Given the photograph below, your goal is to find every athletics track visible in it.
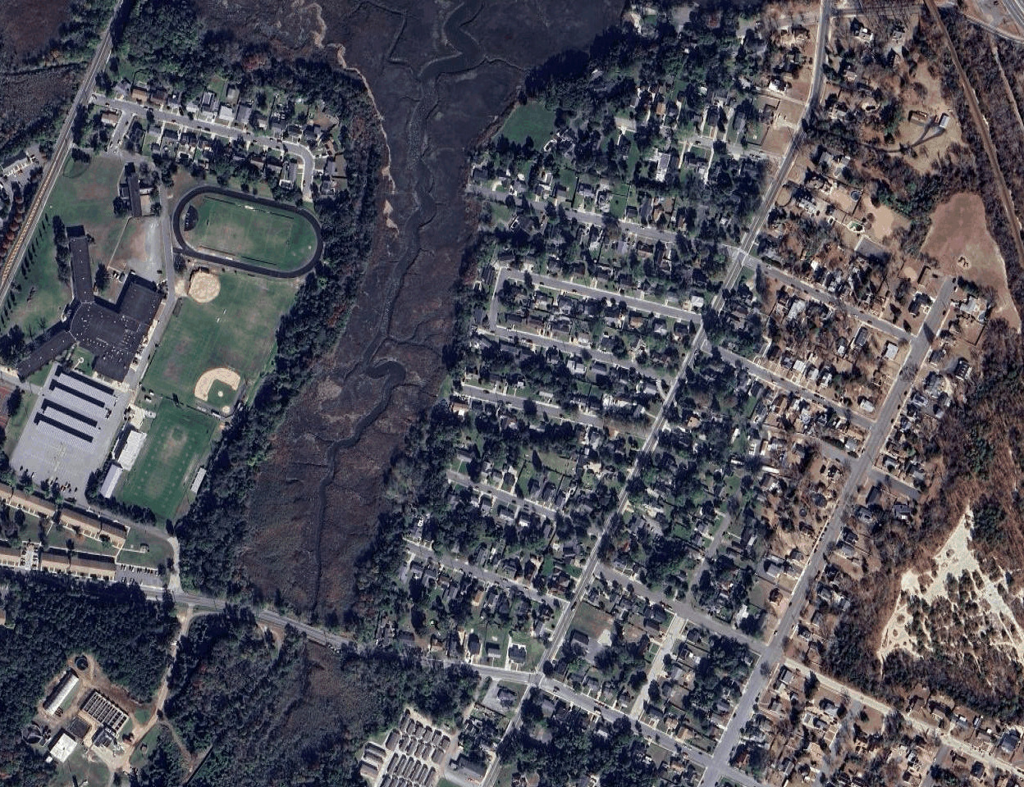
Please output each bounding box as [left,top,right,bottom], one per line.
[172,183,324,280]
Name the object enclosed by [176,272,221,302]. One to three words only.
baseball field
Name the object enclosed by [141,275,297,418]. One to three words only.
baseball field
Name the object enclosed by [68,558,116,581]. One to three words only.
building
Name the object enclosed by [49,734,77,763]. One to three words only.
building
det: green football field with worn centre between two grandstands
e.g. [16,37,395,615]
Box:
[115,396,218,521]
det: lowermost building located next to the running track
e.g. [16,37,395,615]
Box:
[66,282,162,381]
